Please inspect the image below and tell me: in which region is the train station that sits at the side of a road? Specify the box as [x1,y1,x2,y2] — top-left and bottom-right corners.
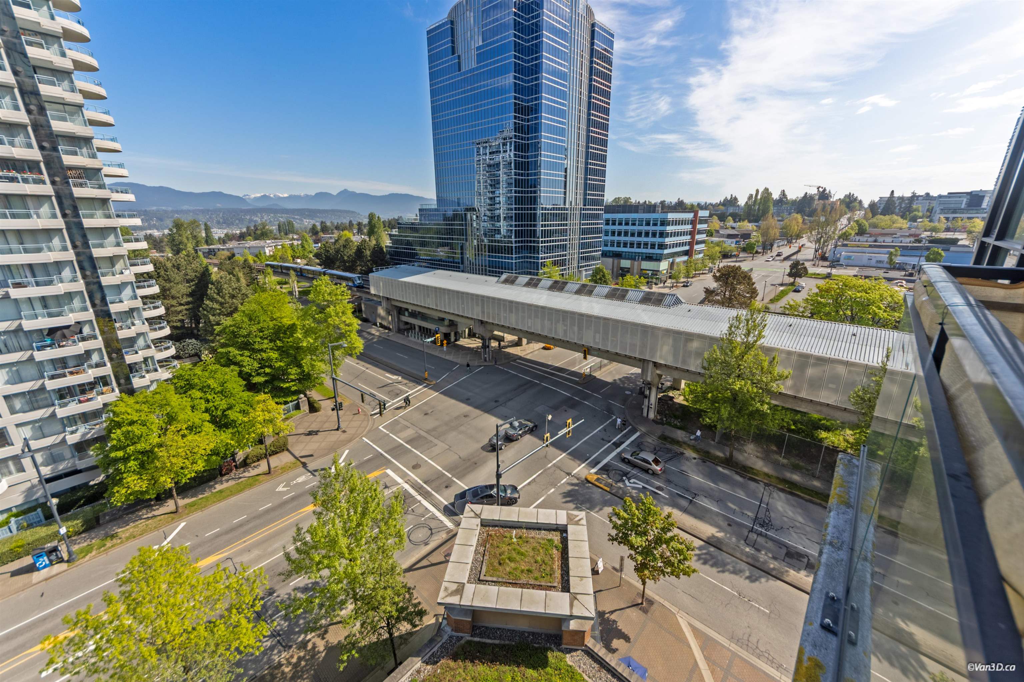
[361,261,899,422]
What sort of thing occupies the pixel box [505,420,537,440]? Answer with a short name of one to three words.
car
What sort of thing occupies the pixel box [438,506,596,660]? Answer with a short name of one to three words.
building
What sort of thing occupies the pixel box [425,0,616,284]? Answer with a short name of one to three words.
building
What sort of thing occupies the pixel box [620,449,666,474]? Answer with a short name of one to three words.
car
